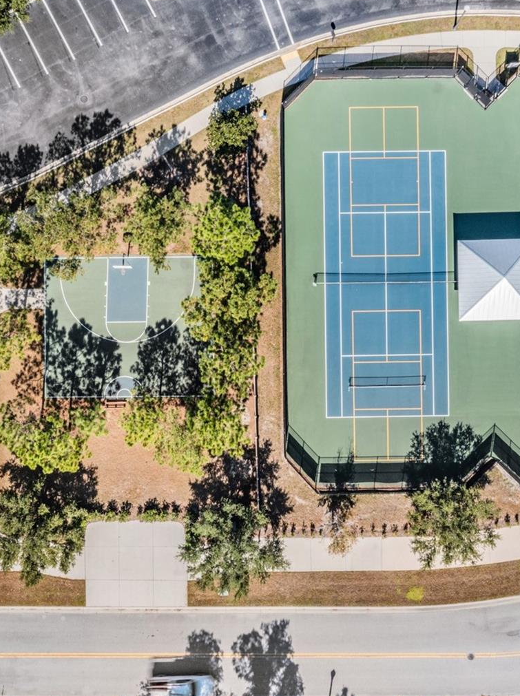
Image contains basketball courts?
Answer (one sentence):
Yes, the frame does contain a basketball court.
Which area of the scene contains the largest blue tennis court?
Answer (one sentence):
The largest blue tennis court appears toward the right of the photo.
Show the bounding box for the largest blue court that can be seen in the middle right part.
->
[323,150,449,418]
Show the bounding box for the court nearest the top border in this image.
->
[349,106,421,256]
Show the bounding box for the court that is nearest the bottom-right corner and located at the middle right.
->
[352,310,423,460]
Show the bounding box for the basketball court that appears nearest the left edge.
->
[44,254,212,398]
